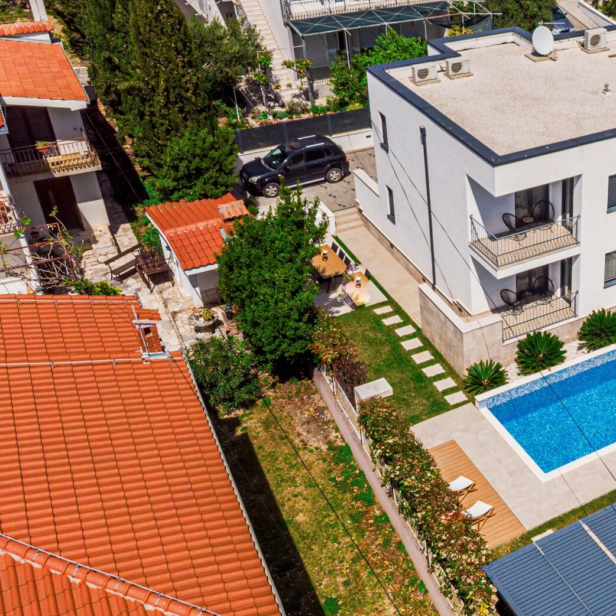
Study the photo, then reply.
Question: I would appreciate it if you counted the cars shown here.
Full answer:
Altogether the scene contains 2 cars.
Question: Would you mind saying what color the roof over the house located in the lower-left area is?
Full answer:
The roof over the house located in the lower-left area appears orange.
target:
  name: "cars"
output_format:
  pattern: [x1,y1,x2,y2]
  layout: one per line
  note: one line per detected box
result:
[238,129,349,194]
[533,4,581,33]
